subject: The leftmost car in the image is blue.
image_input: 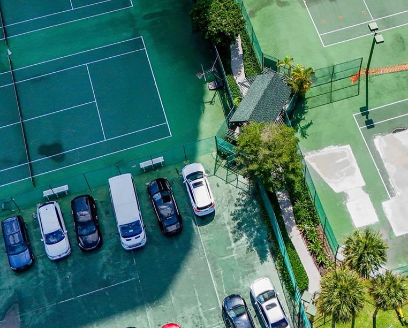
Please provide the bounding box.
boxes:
[0,211,34,277]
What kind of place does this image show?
sports ground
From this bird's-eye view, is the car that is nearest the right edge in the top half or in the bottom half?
bottom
